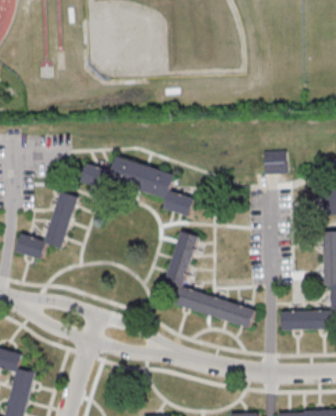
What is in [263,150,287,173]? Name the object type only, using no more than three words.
building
